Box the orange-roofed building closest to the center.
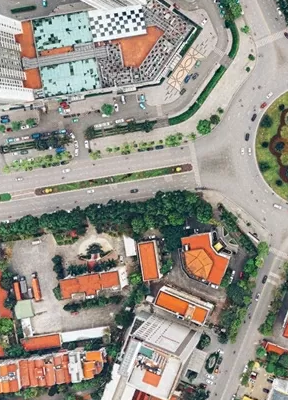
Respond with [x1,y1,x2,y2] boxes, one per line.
[137,238,165,282]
